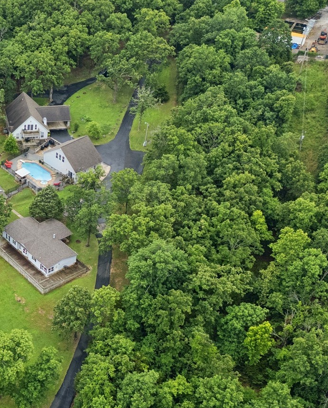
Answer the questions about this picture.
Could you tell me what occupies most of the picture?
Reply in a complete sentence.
The bulk of the photo consists of trees.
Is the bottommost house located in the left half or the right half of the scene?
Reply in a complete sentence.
The bottommost house is on the left side of the image.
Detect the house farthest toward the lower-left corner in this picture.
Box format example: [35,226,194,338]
[4,217,77,276]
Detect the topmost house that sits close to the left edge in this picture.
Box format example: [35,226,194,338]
[4,92,72,147]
